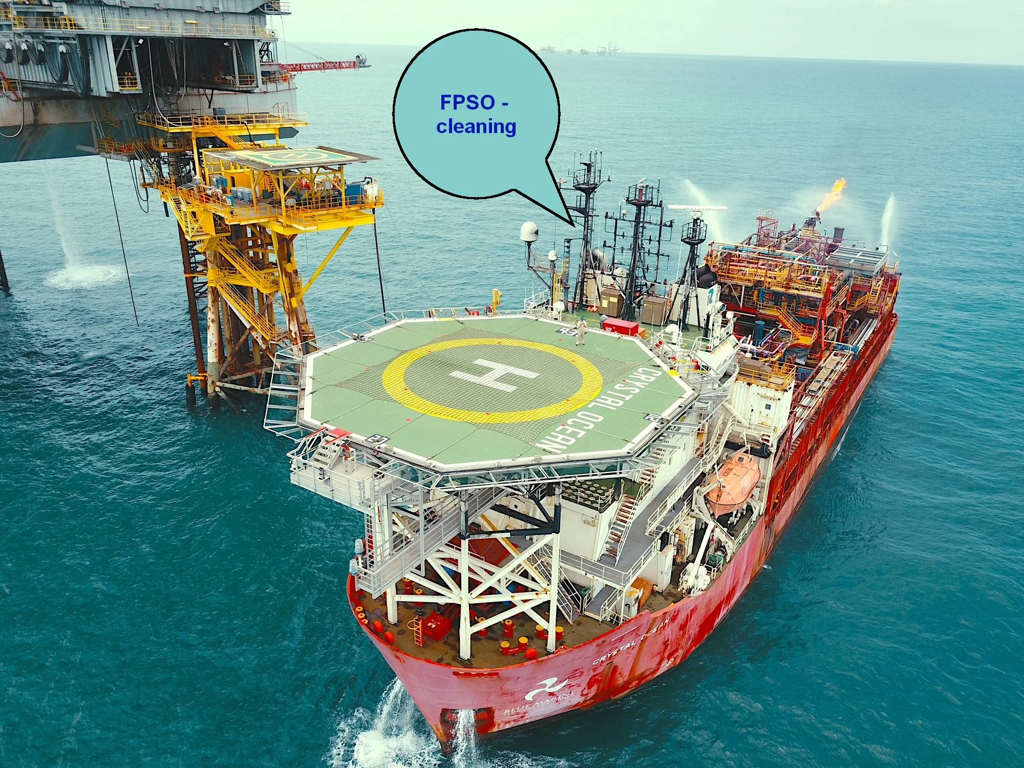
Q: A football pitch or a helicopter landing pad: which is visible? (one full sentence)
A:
This aerial view contains a helicopter landing pad.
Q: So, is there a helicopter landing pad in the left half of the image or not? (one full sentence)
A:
Yes, a helicopter landing pad shows up in the left half of the image.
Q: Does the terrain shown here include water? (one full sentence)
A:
Yes, some water is visible.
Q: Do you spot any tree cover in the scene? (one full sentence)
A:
No, the picture contains no tree cover.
